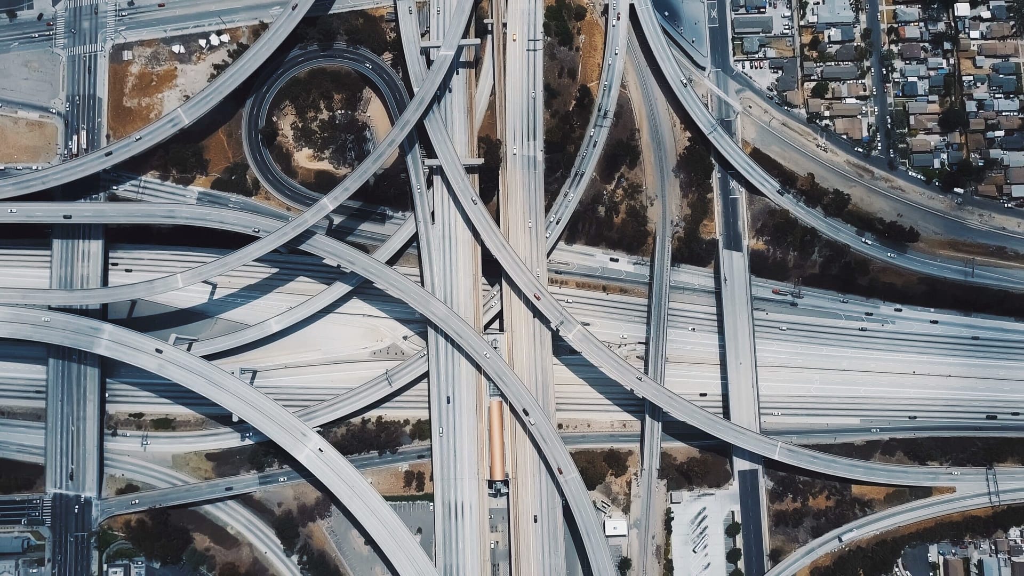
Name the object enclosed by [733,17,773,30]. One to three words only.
house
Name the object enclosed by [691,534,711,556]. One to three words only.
bus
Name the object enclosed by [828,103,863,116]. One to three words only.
house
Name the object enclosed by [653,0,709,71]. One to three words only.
building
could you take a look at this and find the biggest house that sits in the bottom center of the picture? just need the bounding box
[605,518,627,536]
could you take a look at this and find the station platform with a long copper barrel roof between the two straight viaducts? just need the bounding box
[482,333,510,482]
